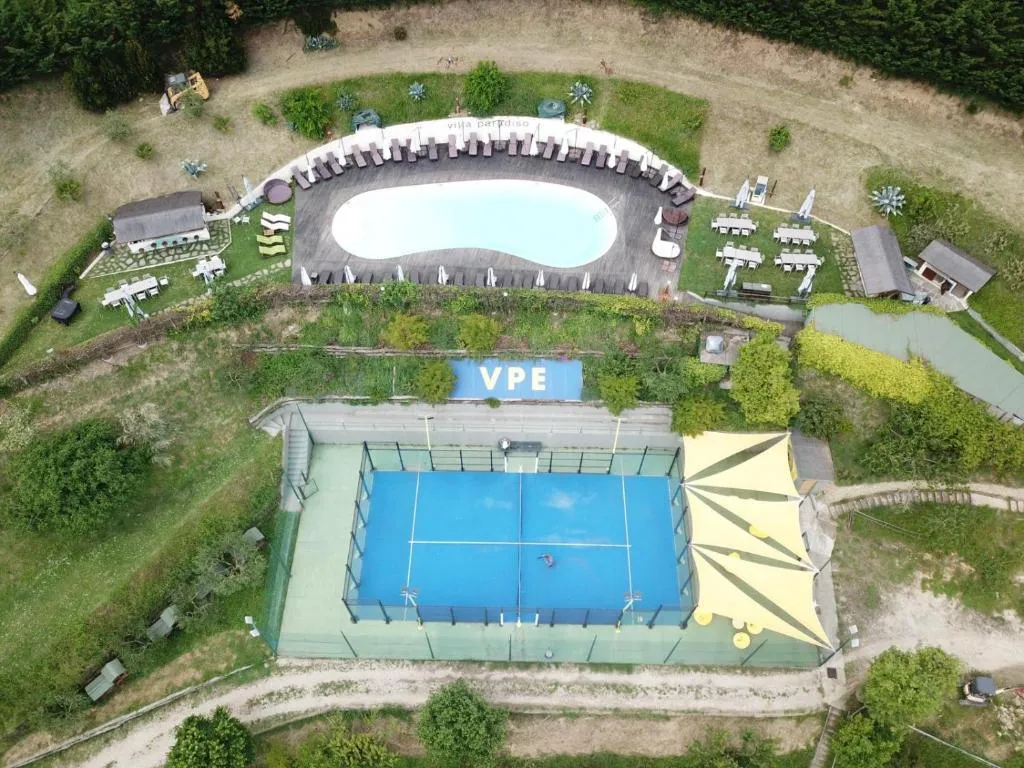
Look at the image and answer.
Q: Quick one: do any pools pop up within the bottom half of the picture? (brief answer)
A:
No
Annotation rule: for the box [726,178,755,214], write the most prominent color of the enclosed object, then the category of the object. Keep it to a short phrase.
white umbrella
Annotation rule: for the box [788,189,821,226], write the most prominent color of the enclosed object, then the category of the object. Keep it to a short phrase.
white umbrella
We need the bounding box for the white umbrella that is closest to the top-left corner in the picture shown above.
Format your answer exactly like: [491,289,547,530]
[11,266,38,296]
